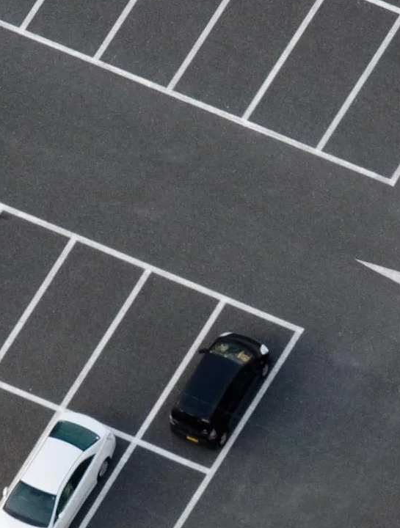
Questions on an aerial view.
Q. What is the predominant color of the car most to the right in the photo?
black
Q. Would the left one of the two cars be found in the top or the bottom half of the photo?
bottom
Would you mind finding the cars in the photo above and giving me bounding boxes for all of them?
[0,414,114,528]
[171,334,272,450]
